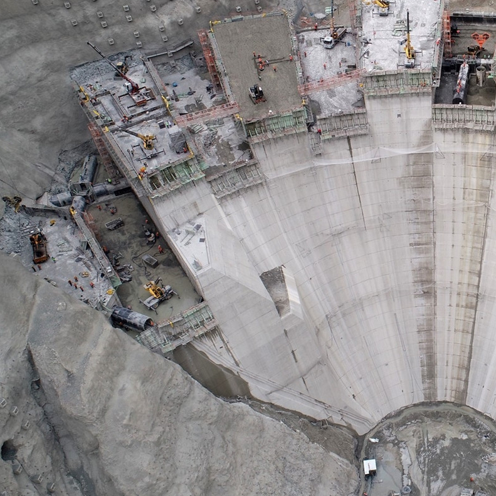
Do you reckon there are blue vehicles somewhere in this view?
No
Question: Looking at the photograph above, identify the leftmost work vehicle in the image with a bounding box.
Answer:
[7,192,24,214]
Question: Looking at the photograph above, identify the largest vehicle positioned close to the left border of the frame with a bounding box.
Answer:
[22,223,48,257]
